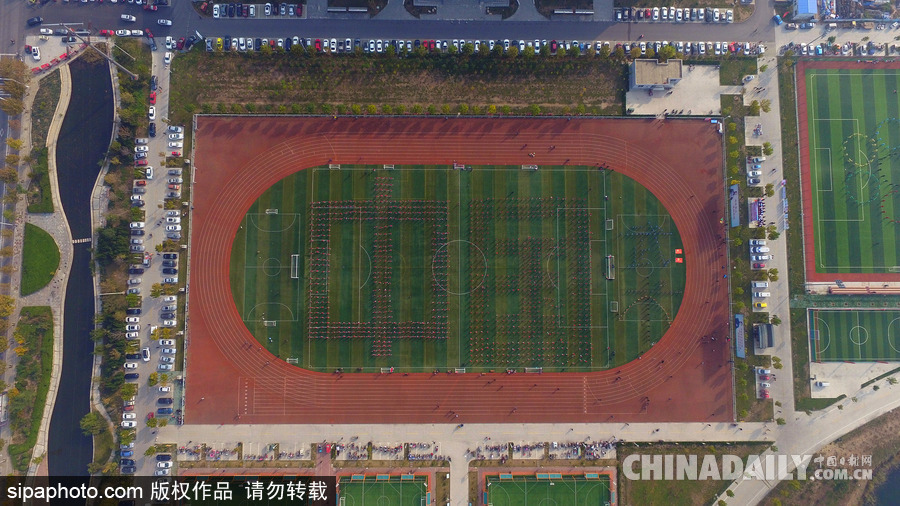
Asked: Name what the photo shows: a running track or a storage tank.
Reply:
running track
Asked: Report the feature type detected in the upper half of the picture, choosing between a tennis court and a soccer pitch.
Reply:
soccer pitch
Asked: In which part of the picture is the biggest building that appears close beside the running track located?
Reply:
top right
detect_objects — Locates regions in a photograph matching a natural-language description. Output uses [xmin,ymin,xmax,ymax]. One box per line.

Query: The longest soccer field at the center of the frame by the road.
[229,164,686,372]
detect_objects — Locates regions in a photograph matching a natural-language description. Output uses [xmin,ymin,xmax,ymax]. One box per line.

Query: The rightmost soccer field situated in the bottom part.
[809,307,900,362]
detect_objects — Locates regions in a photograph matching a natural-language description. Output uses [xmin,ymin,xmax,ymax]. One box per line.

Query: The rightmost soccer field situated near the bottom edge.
[483,473,621,506]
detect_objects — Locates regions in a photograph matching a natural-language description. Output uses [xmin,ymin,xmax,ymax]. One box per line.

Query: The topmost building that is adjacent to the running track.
[630,59,683,97]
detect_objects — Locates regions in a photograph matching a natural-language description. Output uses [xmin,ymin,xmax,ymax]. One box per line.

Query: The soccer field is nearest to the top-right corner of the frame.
[798,58,900,281]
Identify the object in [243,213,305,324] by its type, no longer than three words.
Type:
soccer field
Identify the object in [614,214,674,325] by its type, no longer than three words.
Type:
soccer field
